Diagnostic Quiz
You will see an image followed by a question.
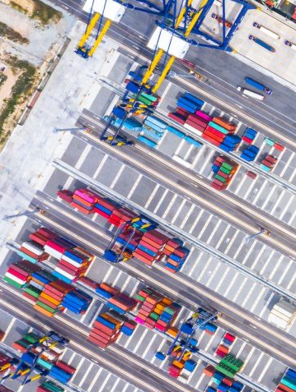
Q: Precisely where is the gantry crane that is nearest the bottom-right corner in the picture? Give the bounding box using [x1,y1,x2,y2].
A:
[161,302,215,360]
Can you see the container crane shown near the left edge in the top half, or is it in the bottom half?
bottom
